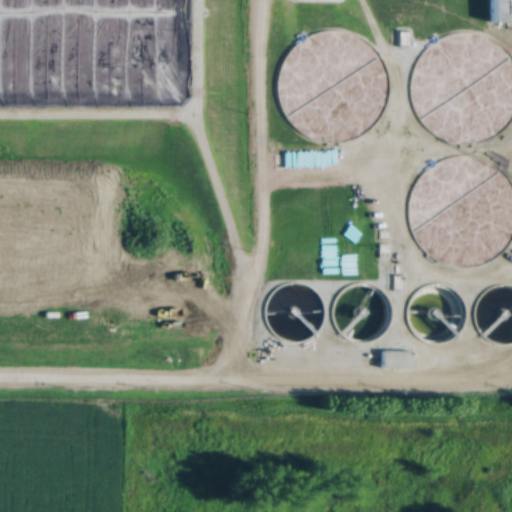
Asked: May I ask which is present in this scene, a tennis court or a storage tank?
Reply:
storage tank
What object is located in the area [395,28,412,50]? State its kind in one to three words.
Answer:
building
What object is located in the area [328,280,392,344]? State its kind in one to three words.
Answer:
storage tank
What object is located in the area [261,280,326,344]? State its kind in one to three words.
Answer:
storage tank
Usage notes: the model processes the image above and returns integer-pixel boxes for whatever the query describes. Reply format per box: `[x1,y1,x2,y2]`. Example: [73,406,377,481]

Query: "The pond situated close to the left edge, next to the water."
[0,0,189,105]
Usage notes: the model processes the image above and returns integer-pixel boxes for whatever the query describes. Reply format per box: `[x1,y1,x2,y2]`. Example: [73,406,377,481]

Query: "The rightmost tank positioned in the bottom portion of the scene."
[474,282,512,346]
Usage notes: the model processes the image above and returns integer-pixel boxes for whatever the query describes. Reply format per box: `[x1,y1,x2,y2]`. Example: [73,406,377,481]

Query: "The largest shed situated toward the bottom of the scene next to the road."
[381,350,416,368]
